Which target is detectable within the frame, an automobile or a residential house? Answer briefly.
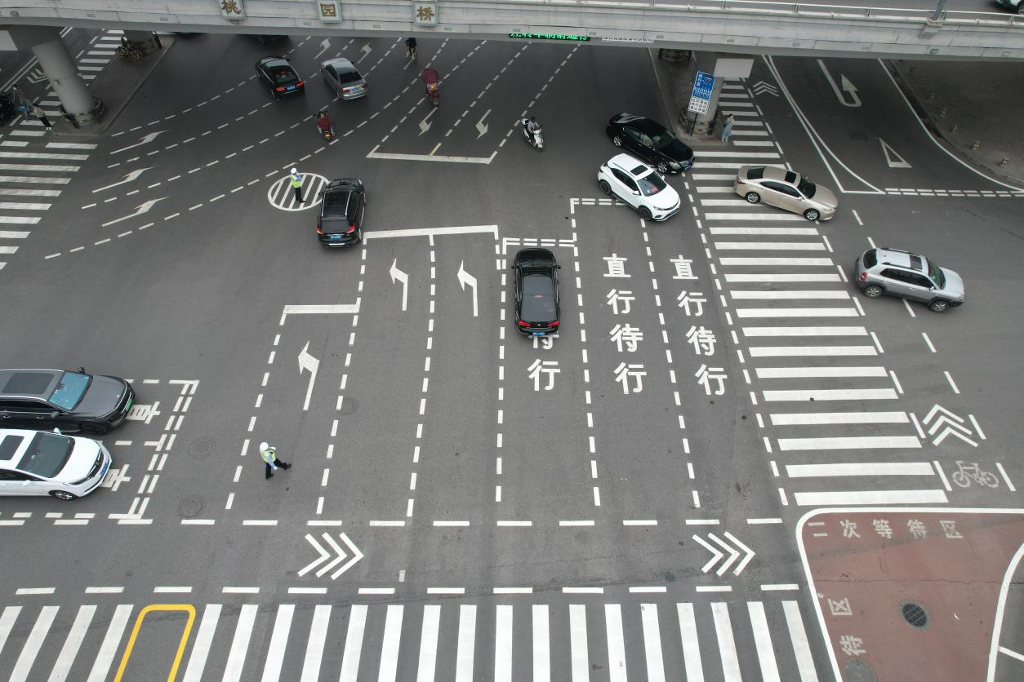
automobile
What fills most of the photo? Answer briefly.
paved ground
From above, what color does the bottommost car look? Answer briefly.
white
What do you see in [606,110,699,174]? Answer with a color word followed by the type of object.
black car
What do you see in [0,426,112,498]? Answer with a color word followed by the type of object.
white car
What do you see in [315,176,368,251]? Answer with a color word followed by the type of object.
black car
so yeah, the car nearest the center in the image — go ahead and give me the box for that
[510,244,567,336]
